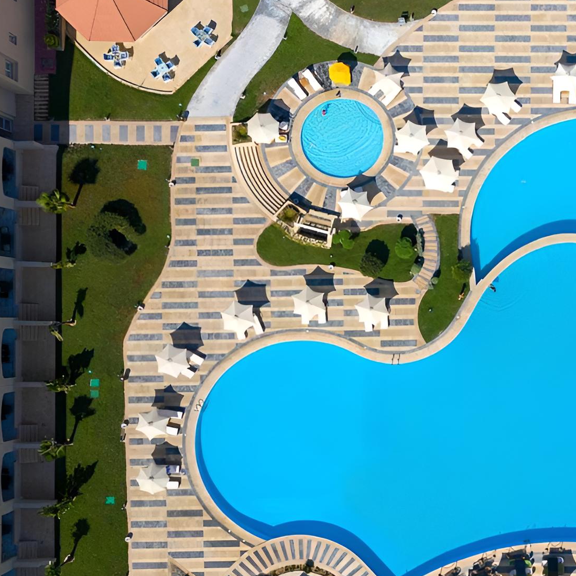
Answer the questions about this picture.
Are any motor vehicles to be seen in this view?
No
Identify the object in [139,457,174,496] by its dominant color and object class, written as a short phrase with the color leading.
white umbrella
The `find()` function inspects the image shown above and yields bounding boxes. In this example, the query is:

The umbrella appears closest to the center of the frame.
[289,282,329,320]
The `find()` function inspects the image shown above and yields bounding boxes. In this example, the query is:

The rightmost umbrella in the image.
[548,56,576,95]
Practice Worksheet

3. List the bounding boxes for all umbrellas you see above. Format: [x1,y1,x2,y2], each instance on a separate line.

[548,56,576,95]
[481,77,519,114]
[394,118,431,156]
[329,64,353,88]
[421,156,460,190]
[443,114,482,151]
[370,60,406,100]
[354,287,389,329]
[337,183,372,220]
[221,295,257,336]
[156,341,193,376]
[243,107,284,149]
[139,457,174,496]
[289,282,329,320]
[136,402,171,440]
